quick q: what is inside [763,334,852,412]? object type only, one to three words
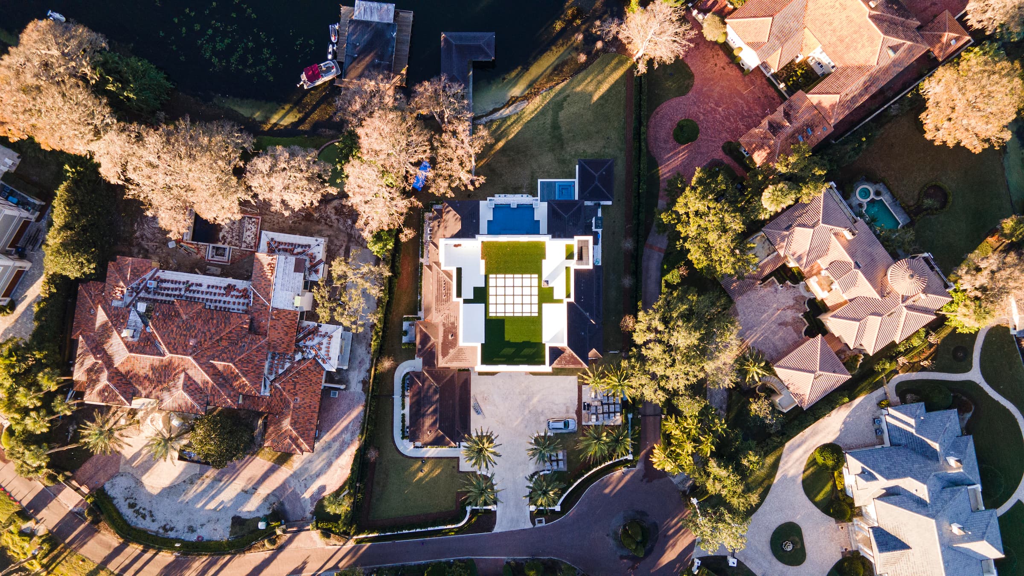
building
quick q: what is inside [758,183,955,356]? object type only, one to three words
house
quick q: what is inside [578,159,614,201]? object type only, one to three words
building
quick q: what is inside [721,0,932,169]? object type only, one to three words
house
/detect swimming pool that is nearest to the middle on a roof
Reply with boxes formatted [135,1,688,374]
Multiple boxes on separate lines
[487,204,540,235]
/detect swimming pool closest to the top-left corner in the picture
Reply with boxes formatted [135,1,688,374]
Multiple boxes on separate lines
[185,211,263,267]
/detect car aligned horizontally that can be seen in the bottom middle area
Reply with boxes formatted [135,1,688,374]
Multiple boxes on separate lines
[547,418,577,432]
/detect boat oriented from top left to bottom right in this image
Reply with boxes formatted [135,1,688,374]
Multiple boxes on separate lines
[45,4,65,21]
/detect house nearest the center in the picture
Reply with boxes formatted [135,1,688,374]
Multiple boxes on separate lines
[416,197,603,376]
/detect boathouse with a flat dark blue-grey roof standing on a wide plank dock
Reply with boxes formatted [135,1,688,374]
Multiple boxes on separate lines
[335,0,414,88]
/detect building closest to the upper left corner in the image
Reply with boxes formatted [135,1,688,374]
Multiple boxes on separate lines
[0,182,53,305]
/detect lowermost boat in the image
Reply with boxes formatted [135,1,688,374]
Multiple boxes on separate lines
[298,62,339,87]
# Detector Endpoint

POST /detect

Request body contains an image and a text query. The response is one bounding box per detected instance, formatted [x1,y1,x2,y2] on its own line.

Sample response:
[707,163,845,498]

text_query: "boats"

[327,41,335,61]
[298,62,339,87]
[330,23,338,43]
[45,4,65,21]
